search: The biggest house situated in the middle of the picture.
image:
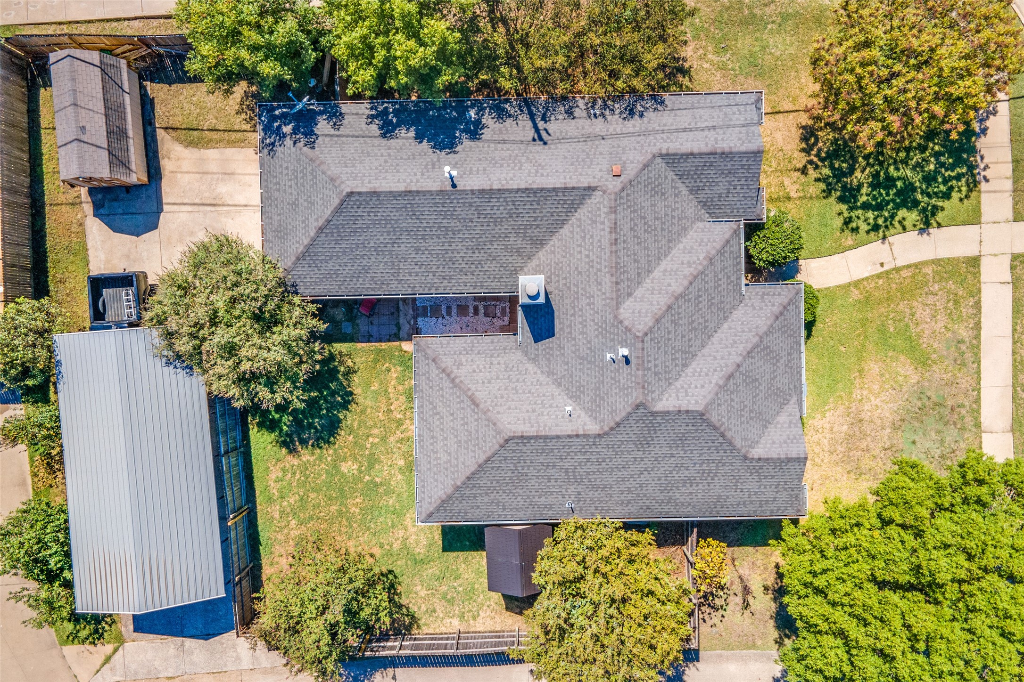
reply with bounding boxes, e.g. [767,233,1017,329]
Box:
[258,91,808,525]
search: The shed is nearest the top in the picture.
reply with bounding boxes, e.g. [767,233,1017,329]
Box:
[50,49,149,191]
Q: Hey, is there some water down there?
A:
No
